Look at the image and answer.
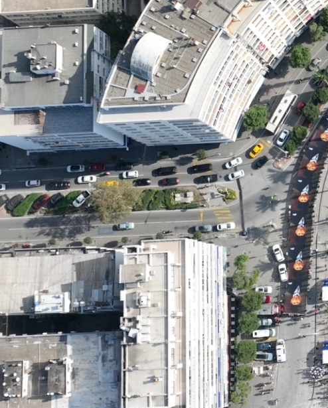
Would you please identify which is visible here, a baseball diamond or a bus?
bus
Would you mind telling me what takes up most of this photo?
buildings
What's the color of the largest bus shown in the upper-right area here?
white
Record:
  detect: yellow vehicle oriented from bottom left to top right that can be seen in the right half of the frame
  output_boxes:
[248,142,265,159]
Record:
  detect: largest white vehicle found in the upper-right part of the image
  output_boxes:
[266,86,299,131]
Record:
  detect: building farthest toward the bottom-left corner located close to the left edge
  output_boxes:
[0,331,123,408]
